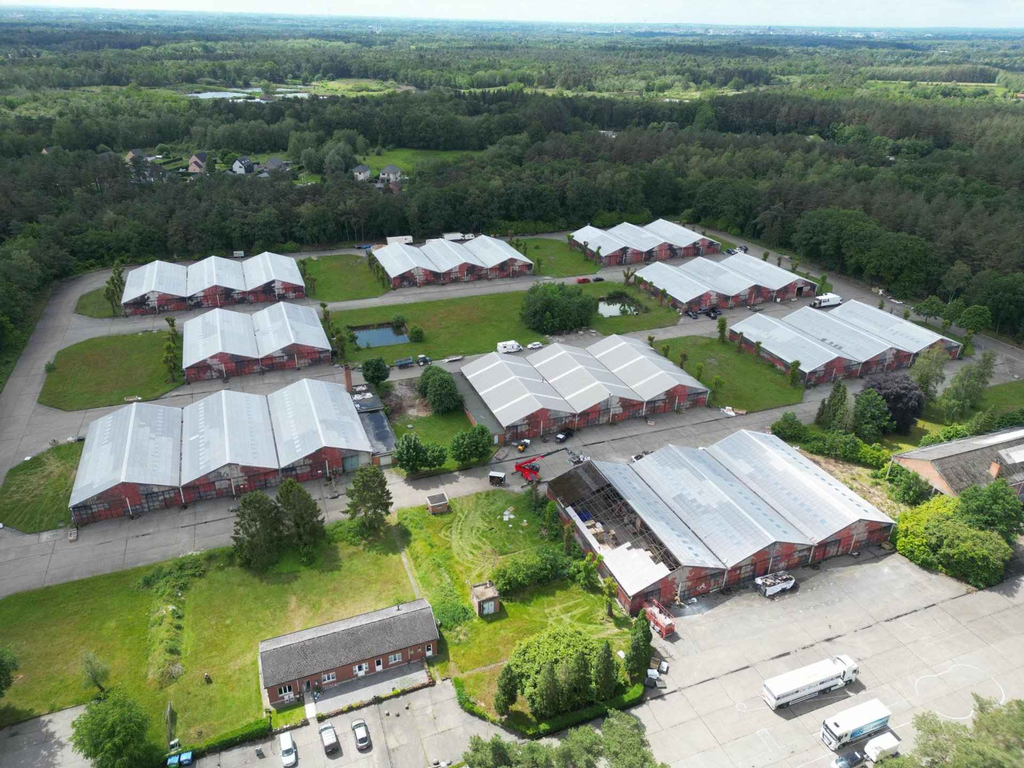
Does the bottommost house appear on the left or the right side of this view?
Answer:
left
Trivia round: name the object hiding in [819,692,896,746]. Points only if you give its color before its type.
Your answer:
white truck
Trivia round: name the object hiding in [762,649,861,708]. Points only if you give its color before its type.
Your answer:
white truck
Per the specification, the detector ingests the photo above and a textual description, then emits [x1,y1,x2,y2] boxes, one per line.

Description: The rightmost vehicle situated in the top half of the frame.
[811,291,845,308]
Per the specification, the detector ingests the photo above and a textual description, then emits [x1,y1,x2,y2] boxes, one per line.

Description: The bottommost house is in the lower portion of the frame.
[257,600,439,702]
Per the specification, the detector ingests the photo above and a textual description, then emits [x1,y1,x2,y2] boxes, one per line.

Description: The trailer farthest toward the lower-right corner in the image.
[865,726,906,759]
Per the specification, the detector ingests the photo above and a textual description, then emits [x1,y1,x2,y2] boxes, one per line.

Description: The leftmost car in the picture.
[278,728,296,767]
